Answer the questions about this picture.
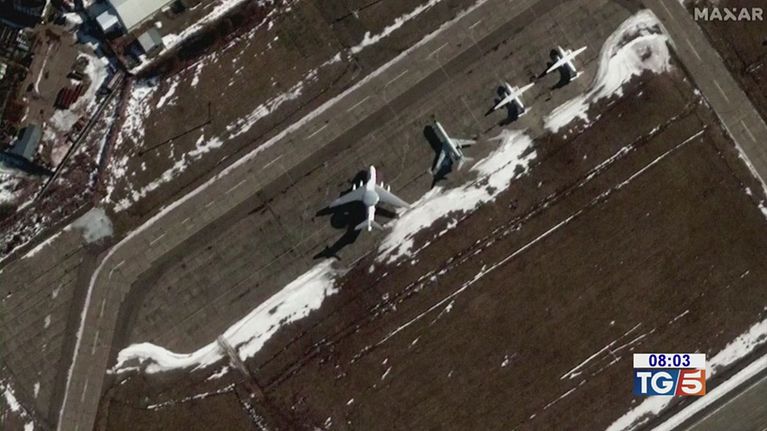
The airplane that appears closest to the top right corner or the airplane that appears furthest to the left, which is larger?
the airplane that appears furthest to the left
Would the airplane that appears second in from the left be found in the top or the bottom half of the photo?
top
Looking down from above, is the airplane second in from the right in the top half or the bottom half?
top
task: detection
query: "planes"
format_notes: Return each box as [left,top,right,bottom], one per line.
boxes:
[434,124,479,170]
[494,80,536,115]
[330,166,411,230]
[545,44,588,78]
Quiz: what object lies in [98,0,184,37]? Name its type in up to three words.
hangar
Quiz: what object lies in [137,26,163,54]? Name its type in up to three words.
house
